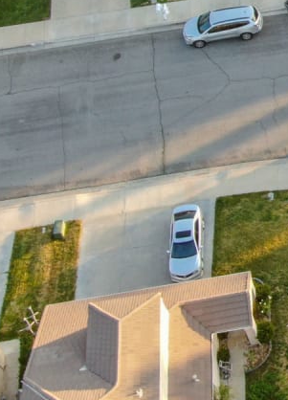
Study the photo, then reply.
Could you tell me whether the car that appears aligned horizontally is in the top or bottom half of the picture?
top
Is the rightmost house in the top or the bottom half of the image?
bottom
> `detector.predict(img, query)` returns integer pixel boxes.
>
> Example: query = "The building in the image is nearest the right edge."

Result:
[12,272,255,400]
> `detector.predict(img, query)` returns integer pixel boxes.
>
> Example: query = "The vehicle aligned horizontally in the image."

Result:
[184,0,265,47]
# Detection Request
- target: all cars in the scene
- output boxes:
[163,196,207,284]
[184,0,265,47]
